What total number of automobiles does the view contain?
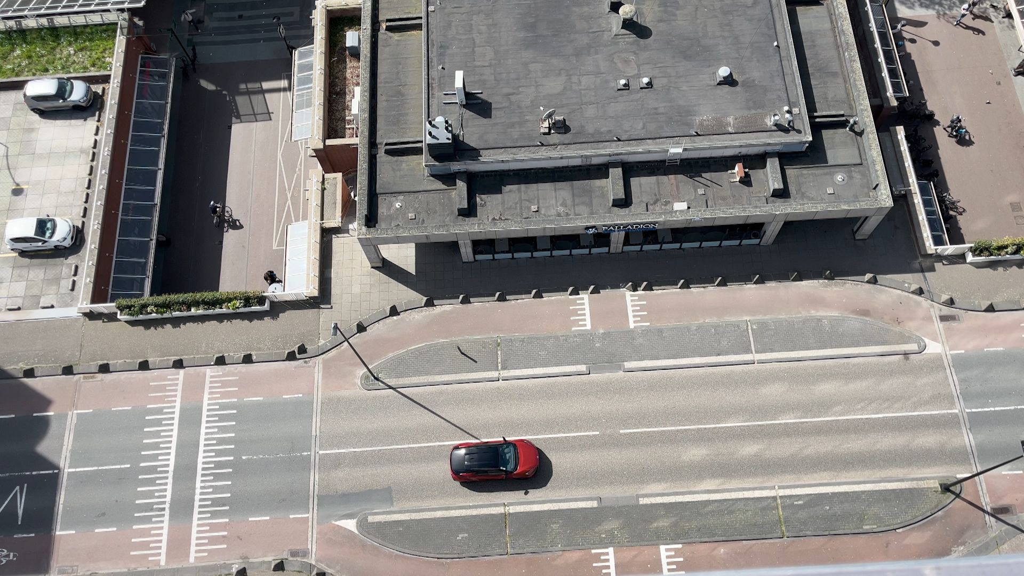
3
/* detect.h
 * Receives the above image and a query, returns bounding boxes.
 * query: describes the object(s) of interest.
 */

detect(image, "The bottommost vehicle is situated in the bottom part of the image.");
[451,434,539,483]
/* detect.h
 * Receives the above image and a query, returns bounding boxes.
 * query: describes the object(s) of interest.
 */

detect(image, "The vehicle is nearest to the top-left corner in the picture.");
[23,77,94,116]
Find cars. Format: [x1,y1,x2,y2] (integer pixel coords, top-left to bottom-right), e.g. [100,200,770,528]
[23,77,94,116]
[6,214,77,256]
[451,434,539,483]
